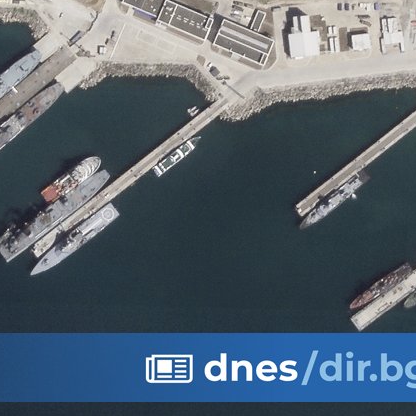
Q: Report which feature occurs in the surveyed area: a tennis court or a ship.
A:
ship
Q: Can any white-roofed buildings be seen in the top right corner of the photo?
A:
Yes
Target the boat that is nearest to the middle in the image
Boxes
[152,137,200,176]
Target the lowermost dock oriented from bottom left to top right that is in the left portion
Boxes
[31,95,233,256]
